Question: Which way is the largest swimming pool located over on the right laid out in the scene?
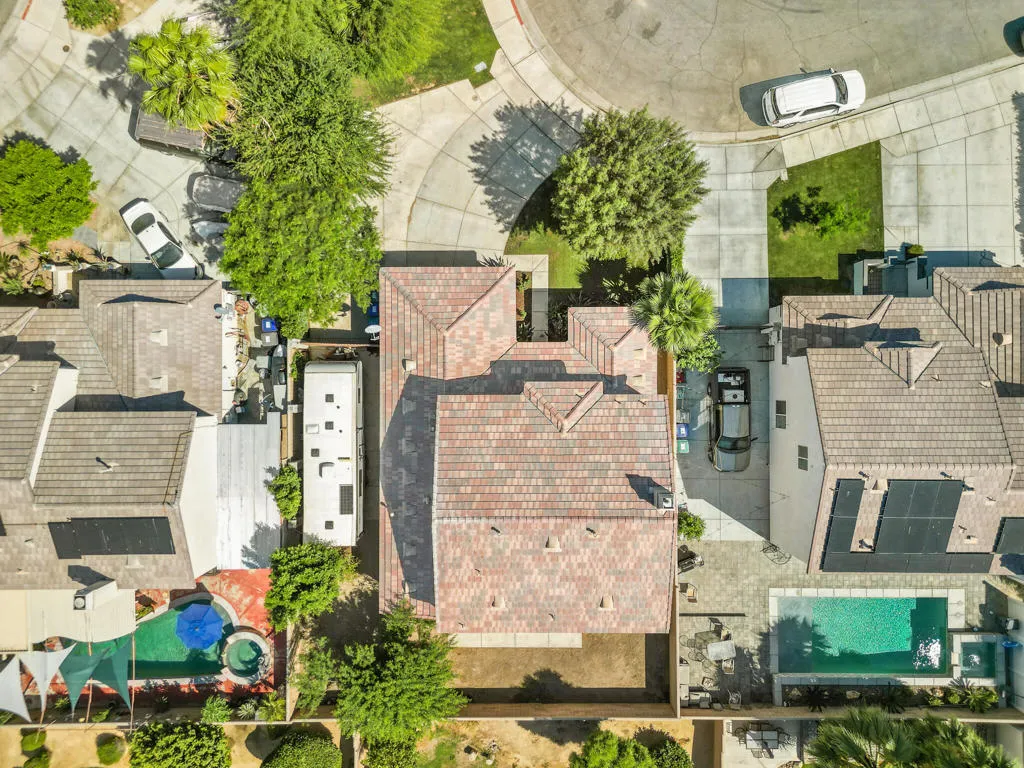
from left to right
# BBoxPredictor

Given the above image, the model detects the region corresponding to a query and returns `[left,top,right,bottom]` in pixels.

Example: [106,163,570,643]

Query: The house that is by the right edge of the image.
[769,265,1024,574]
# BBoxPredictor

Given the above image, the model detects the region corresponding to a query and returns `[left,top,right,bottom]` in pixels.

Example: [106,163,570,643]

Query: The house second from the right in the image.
[379,265,679,633]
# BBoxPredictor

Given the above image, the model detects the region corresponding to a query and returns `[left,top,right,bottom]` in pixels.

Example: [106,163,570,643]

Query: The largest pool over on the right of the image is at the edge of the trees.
[769,588,966,683]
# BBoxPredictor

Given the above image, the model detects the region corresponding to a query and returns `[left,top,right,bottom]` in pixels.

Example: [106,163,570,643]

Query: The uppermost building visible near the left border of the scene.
[0,278,240,614]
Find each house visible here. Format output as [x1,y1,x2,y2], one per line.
[0,278,240,614]
[769,265,1024,574]
[379,265,679,633]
